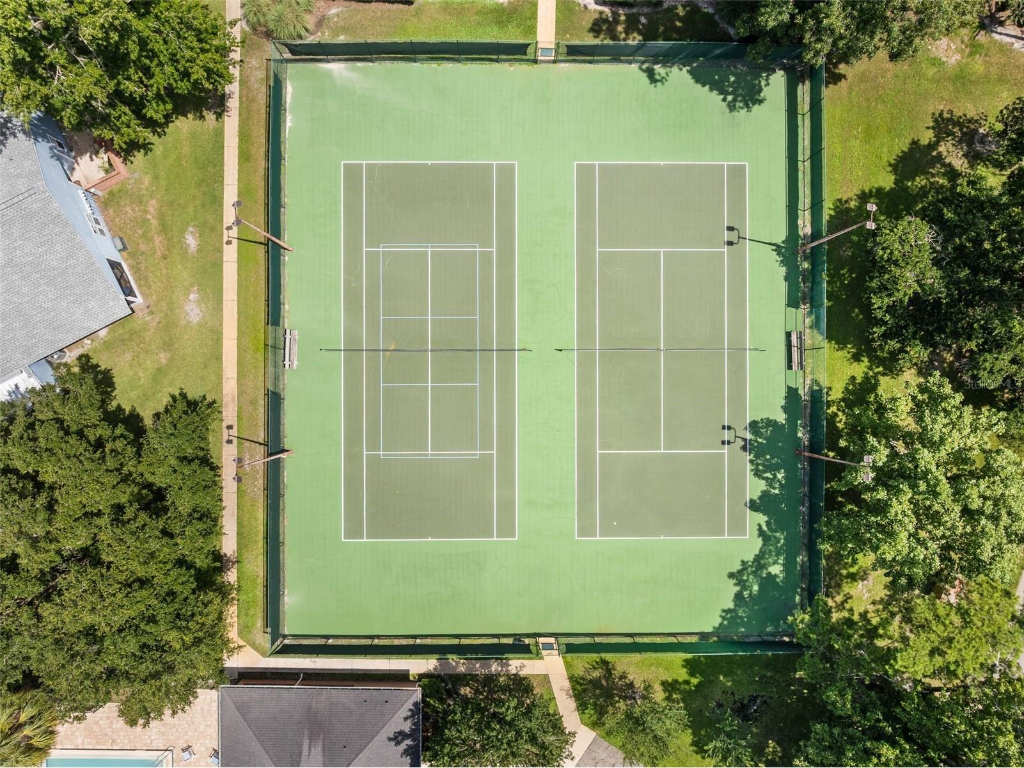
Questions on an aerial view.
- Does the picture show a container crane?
No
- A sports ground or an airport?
sports ground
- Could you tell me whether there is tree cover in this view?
Yes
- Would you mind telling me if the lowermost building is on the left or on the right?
left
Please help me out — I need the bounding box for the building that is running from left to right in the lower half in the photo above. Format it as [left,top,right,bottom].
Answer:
[216,671,423,768]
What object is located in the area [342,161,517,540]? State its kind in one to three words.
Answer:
tennis court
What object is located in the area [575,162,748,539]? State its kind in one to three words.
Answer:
tennis court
